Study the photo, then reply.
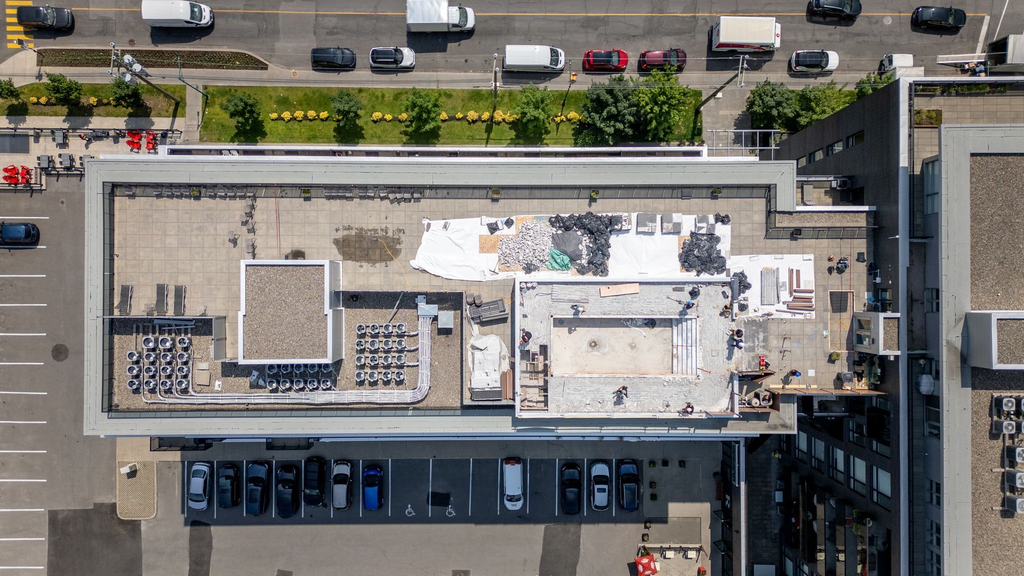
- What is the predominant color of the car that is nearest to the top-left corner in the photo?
black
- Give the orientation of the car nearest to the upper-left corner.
horizontally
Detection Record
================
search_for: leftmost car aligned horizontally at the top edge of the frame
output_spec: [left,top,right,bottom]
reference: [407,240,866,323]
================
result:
[18,4,74,31]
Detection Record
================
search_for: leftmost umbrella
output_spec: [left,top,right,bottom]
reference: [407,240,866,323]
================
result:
[635,552,656,576]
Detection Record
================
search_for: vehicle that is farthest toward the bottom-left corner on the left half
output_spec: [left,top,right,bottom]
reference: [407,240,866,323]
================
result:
[186,461,213,510]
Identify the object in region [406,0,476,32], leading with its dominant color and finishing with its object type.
white truck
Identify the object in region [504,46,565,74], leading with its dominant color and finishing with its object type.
white van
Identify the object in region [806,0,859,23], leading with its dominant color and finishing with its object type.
black car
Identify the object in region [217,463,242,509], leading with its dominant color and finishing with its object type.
black car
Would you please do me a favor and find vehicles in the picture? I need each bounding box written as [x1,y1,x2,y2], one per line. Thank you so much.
[911,5,964,31]
[217,463,242,509]
[504,46,565,74]
[501,455,525,507]
[301,457,326,506]
[790,48,837,73]
[806,0,859,23]
[142,0,218,31]
[559,462,583,514]
[589,460,612,511]
[583,48,627,73]
[640,47,686,72]
[706,13,777,52]
[244,461,271,516]
[18,4,74,31]
[186,461,213,510]
[329,460,353,511]
[360,464,384,511]
[275,465,300,519]
[369,45,415,70]
[0,222,43,246]
[406,0,476,32]
[875,50,924,80]
[311,45,356,70]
